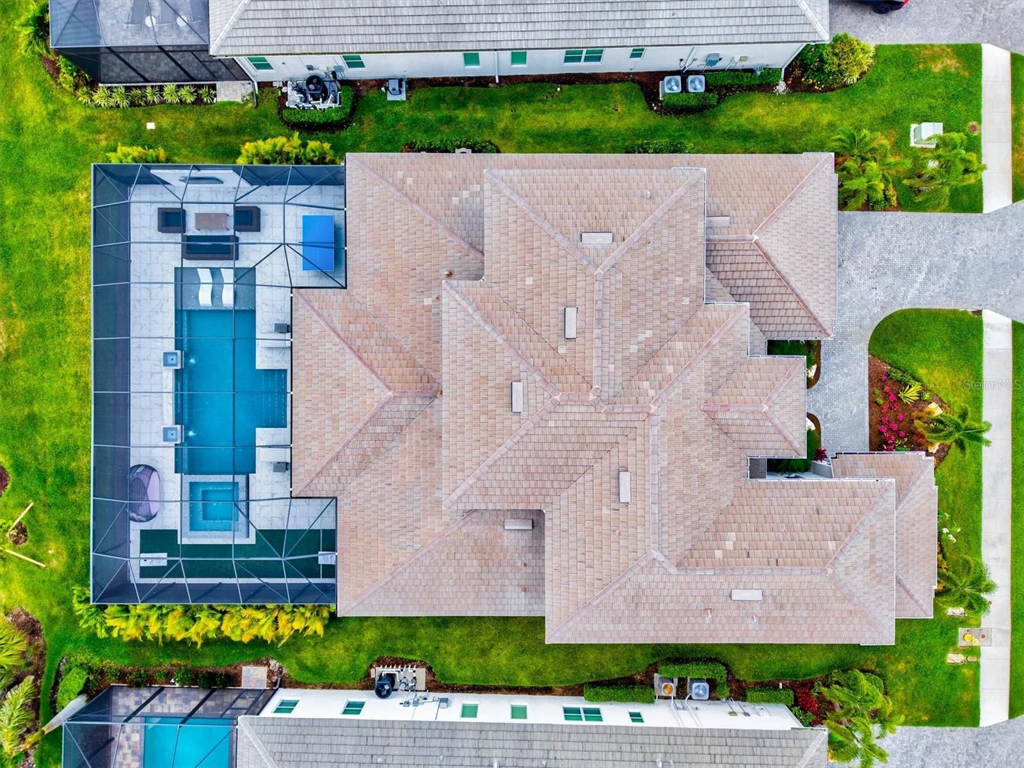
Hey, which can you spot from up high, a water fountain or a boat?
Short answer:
water fountain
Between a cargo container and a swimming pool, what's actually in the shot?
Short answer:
swimming pool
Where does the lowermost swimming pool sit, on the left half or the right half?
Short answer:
left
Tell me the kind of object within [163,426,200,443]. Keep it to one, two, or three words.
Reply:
fountain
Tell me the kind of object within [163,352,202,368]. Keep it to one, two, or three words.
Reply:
fountain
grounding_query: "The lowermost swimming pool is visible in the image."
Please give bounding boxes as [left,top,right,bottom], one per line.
[144,717,234,768]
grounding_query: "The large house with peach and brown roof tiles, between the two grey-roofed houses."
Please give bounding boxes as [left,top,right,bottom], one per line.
[290,151,939,646]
